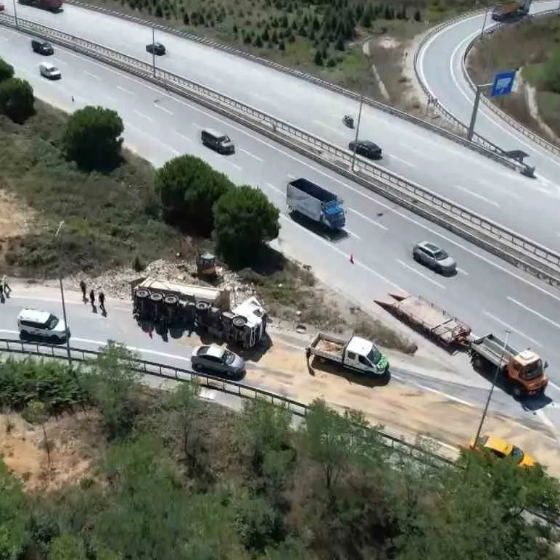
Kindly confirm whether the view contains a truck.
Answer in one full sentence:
Yes, the picture does show a truck.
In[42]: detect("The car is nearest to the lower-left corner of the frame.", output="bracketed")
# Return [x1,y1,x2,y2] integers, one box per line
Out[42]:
[14,308,70,342]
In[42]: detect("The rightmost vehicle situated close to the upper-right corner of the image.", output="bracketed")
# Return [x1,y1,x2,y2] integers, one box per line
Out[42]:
[492,0,529,22]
